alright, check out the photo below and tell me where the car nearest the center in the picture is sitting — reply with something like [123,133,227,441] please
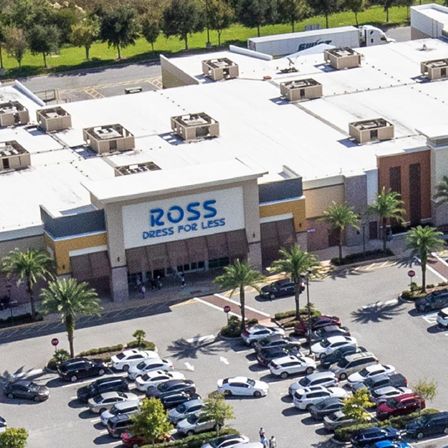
[261,281,306,299]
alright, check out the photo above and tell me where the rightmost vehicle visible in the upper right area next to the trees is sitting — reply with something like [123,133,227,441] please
[350,21,399,49]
